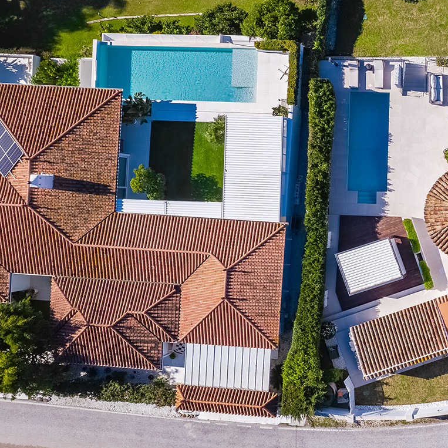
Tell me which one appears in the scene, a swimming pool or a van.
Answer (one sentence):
The one in the frame is a swimming pool.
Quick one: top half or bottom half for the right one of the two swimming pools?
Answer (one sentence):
The right one of the two swimming pools is in the top half of the image.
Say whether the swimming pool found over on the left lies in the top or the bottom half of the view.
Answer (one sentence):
You can find the swimming pool found over on the left in the top half.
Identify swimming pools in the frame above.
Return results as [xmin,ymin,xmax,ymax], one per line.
[348,92,389,203]
[101,44,256,101]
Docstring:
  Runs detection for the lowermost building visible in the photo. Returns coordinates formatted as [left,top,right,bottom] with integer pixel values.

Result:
[174,382,282,419]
